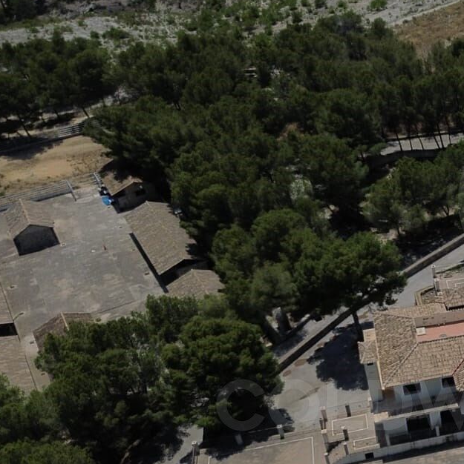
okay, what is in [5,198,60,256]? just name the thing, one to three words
shed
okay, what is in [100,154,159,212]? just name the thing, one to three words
shed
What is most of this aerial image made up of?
trees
